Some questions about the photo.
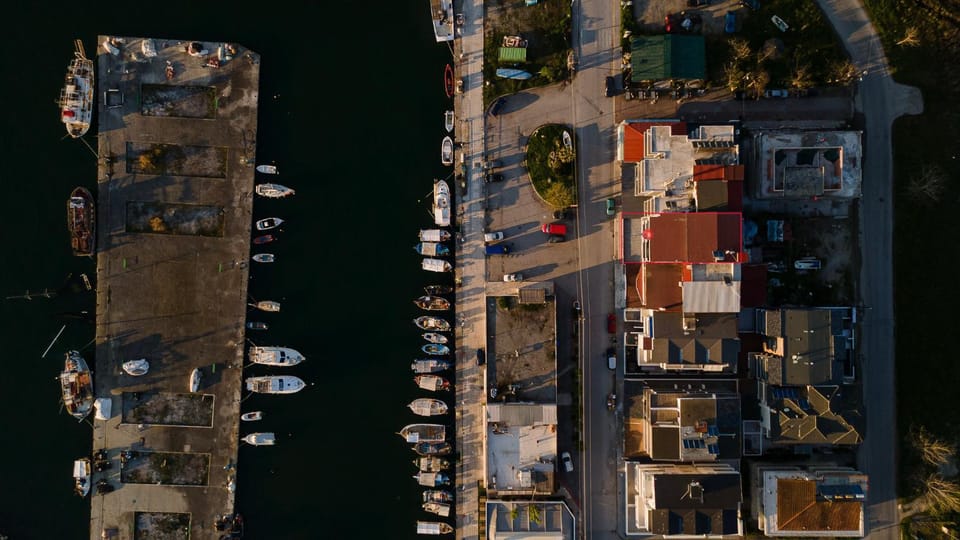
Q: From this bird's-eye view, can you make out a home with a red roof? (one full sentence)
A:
Yes, the photo shows a home with a red roof.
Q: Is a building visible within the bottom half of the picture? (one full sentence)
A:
Yes, a building is visible within the bottom half of the picture.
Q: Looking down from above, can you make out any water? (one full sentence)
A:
Yes, the picture does contain water.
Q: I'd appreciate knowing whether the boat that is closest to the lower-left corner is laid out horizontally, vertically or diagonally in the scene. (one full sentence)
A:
The boat that is closest to the lower-left corner is oriented vertically.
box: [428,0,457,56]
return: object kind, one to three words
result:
ship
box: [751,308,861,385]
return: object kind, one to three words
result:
house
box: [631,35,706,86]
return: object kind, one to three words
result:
building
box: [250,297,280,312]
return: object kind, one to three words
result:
boat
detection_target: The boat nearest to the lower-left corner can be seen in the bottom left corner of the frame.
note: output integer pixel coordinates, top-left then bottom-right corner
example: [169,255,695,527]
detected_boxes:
[70,458,90,501]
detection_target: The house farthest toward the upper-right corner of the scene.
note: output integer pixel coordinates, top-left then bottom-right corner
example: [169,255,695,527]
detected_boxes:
[753,129,866,200]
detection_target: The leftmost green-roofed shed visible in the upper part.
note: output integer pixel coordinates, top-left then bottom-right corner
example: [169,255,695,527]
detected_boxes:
[499,48,526,64]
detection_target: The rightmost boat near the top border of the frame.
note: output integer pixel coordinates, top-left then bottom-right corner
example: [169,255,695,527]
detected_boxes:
[772,13,792,33]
